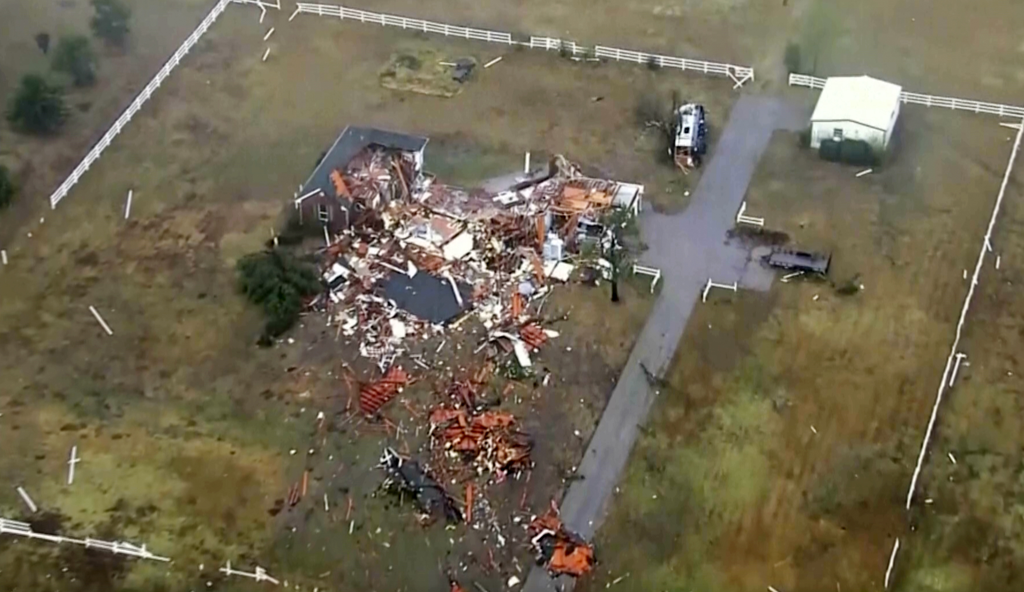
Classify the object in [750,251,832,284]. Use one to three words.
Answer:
trailer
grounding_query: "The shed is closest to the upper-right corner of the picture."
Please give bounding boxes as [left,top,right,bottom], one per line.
[810,74,904,156]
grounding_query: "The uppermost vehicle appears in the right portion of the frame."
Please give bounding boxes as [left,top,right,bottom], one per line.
[674,107,705,175]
